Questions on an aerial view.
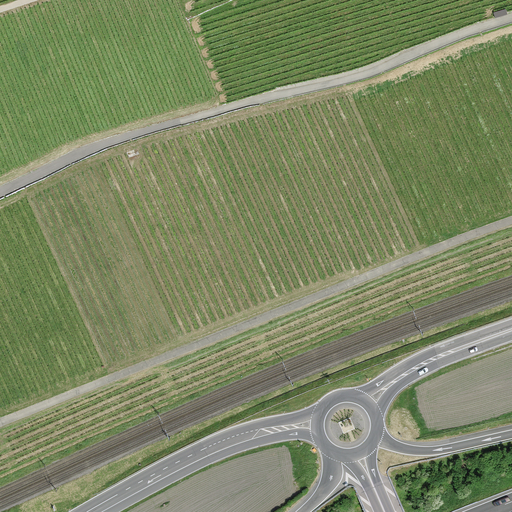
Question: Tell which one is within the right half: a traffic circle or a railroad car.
traffic circle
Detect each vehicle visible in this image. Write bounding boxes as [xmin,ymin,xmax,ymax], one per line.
[469,346,478,352]
[494,497,510,506]
[418,367,429,375]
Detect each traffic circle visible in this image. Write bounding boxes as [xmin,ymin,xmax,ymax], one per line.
[310,389,384,462]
